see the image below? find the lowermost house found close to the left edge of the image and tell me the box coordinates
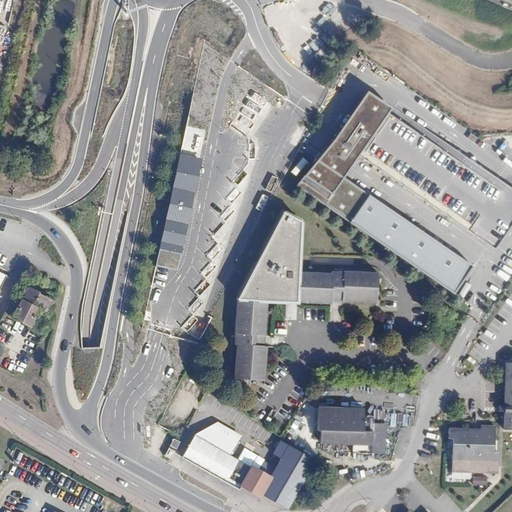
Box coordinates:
[12,286,56,328]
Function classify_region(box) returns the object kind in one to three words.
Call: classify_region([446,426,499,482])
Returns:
house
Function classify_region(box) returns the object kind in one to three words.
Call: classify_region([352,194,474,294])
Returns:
building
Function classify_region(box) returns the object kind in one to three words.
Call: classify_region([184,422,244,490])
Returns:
building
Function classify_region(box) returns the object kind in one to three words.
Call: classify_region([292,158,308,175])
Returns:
vehicle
